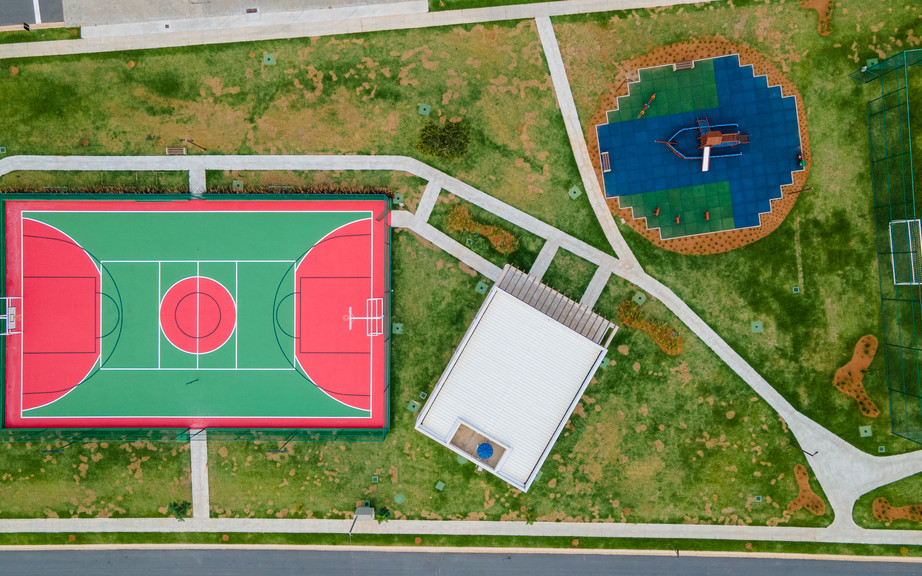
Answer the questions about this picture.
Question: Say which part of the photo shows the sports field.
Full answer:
The sports field appears toward the right of the photo.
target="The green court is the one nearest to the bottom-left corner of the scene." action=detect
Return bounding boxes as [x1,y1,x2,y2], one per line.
[5,200,390,428]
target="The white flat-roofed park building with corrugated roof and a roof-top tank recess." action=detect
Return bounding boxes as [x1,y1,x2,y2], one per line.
[415,286,608,492]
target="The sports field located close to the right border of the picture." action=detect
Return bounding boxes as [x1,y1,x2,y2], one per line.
[868,68,922,431]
